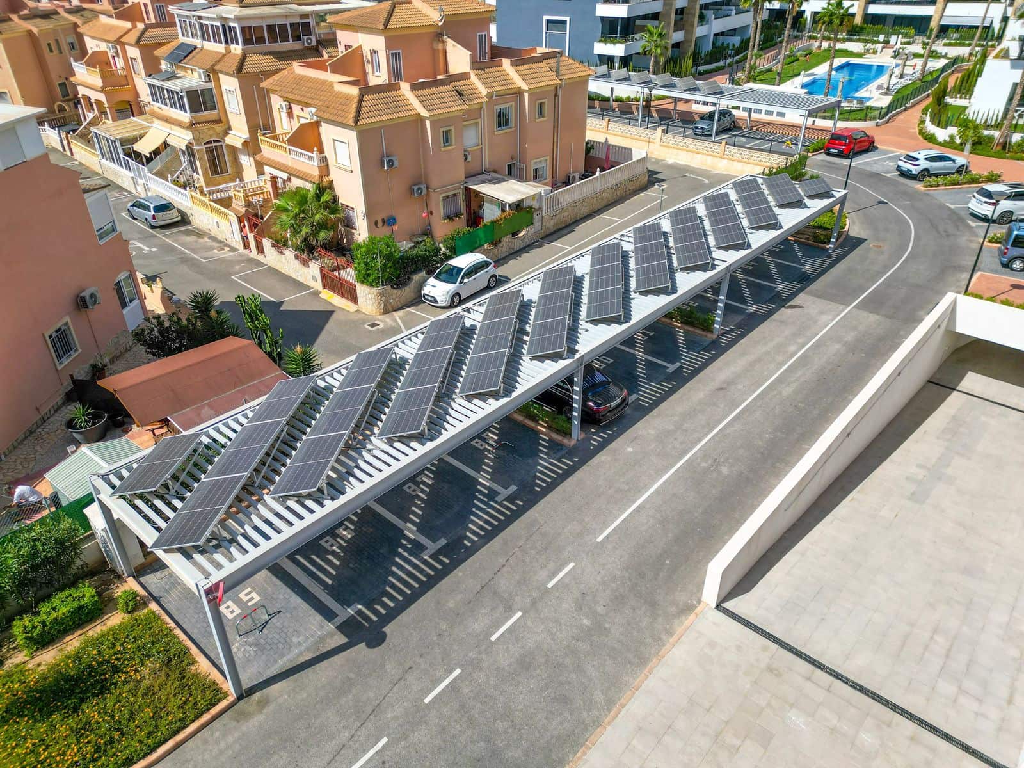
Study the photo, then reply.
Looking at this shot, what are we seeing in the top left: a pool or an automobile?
automobile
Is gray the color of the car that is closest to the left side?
Yes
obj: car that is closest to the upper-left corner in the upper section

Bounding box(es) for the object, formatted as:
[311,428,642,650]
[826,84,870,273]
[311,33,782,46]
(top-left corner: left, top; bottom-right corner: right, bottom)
[121,191,190,228]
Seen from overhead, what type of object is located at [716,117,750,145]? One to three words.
car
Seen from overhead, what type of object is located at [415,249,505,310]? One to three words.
car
